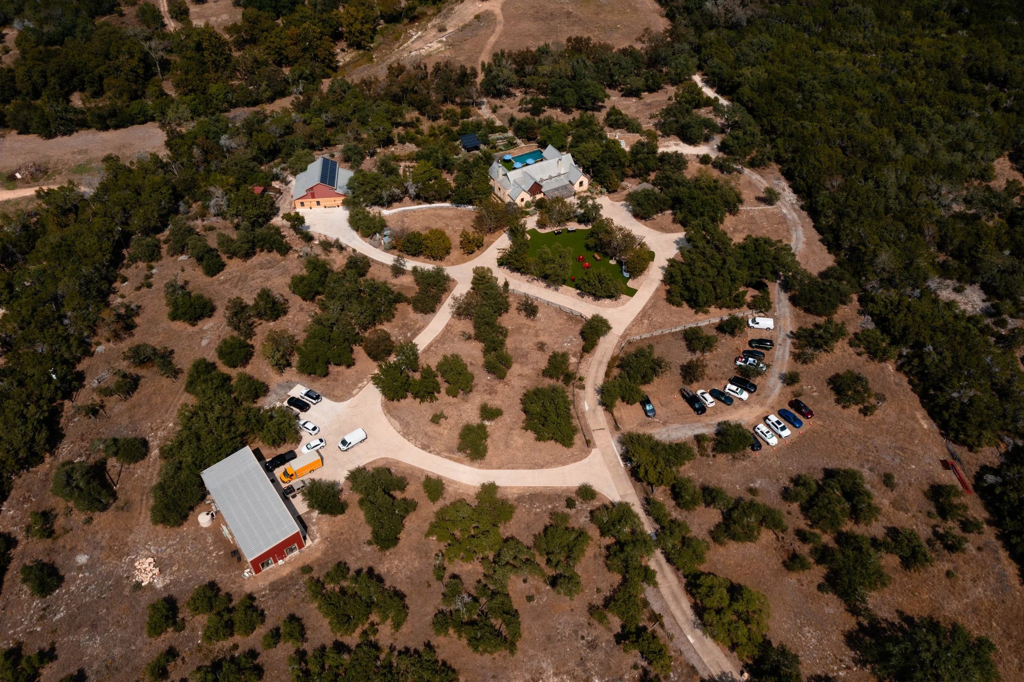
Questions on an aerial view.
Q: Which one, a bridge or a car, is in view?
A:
car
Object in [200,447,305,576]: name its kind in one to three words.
barn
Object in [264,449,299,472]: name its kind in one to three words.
truck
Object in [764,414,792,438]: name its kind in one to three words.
car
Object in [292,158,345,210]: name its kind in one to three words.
building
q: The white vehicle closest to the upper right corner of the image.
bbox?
[747,318,776,331]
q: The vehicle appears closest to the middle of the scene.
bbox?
[641,396,656,416]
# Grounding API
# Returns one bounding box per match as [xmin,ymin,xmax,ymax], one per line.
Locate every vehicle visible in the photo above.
[695,389,718,408]
[264,449,299,472]
[280,476,314,499]
[777,408,804,428]
[298,388,323,403]
[300,437,328,455]
[641,396,656,416]
[680,387,706,412]
[764,414,792,438]
[285,396,312,412]
[753,423,779,445]
[338,426,370,452]
[281,450,323,483]
[731,374,757,393]
[747,318,776,331]
[749,338,775,350]
[723,383,749,401]
[709,389,734,406]
[742,427,764,450]
[788,397,815,418]
[297,421,322,436]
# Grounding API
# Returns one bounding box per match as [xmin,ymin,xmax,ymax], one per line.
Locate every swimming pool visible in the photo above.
[510,148,543,163]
